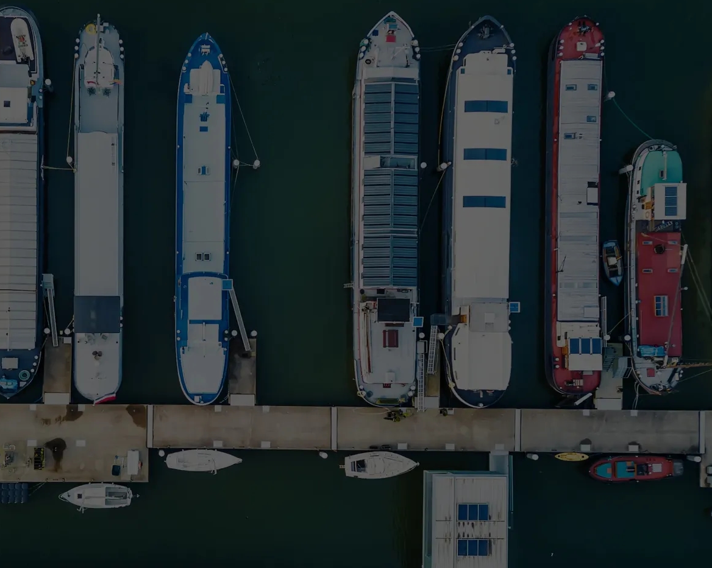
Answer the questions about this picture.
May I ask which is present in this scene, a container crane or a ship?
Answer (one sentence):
I can see a ship in this picture.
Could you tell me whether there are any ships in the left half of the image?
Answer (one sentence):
Yes, I can see a ship in the left half of the image.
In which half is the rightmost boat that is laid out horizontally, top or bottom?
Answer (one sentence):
The bottom half of the photo is where the rightmost boat that is laid out horizontally is.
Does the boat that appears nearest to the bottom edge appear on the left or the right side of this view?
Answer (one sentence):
The boat that appears nearest to the bottom edge sits on the left side.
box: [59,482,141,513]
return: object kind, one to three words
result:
boat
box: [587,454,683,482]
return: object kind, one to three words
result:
boat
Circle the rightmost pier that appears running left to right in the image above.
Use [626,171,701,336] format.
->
[521,409,706,454]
